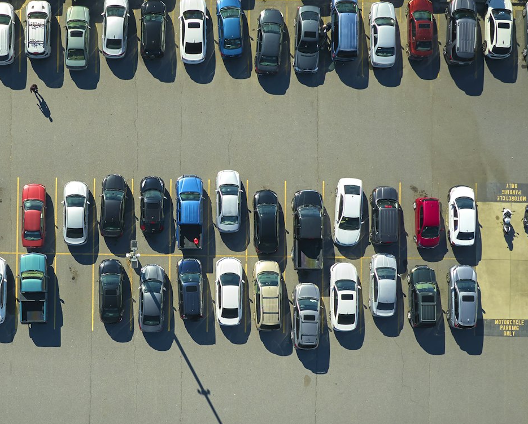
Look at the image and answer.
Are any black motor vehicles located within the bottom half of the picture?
Yes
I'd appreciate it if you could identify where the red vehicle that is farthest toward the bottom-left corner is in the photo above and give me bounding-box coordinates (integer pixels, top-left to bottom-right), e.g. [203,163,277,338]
[19,184,47,248]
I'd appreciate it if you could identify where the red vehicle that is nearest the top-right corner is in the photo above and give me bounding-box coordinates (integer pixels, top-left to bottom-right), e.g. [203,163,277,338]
[406,0,437,61]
